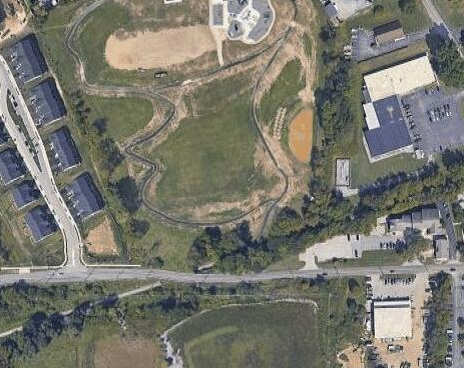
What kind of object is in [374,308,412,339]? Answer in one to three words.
building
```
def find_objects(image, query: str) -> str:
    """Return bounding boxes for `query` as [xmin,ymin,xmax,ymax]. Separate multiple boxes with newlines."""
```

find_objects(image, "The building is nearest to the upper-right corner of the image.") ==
[371,18,407,47]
